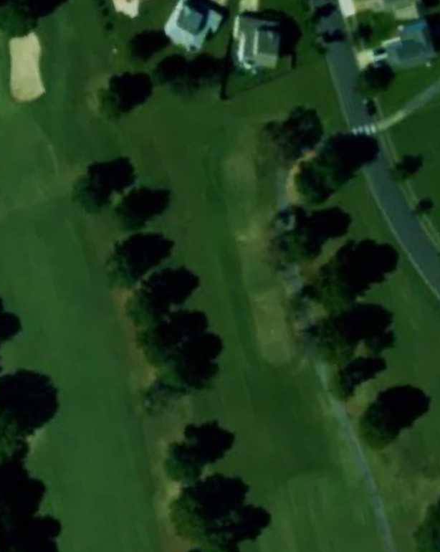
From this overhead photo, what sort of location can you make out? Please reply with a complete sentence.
This looks like a golf course.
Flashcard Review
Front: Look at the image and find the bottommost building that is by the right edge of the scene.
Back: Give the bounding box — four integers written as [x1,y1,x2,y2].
[376,17,439,65]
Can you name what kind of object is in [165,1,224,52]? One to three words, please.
house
